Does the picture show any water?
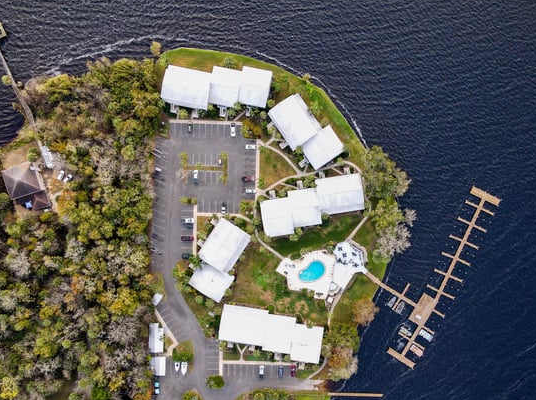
Yes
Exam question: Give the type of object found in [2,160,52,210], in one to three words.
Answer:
house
